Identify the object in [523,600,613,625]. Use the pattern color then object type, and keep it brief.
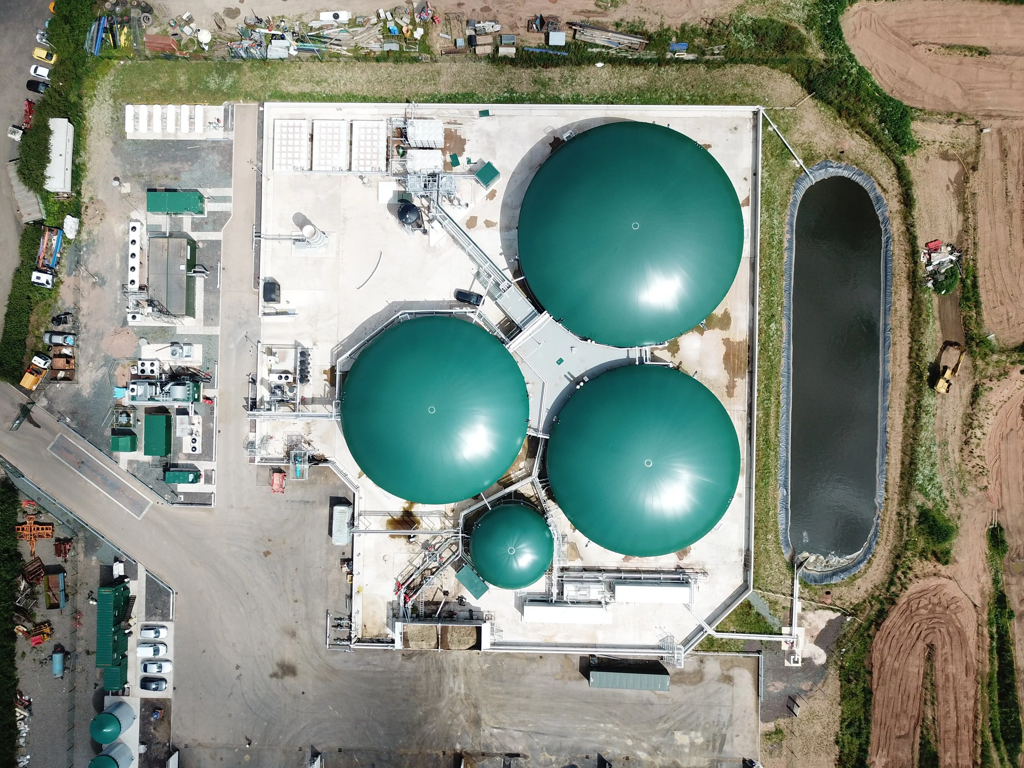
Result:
white shipping container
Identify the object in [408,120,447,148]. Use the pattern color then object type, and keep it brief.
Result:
white water tank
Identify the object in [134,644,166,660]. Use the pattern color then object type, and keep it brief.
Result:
white car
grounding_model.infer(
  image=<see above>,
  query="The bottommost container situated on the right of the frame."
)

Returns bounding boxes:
[587,664,670,691]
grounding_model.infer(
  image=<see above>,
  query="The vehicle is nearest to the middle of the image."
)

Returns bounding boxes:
[454,288,485,306]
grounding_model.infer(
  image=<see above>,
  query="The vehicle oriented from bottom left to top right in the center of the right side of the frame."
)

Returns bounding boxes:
[930,346,966,393]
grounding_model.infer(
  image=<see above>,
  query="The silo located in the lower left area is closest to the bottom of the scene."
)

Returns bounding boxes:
[84,740,136,768]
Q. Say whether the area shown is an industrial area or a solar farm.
industrial area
